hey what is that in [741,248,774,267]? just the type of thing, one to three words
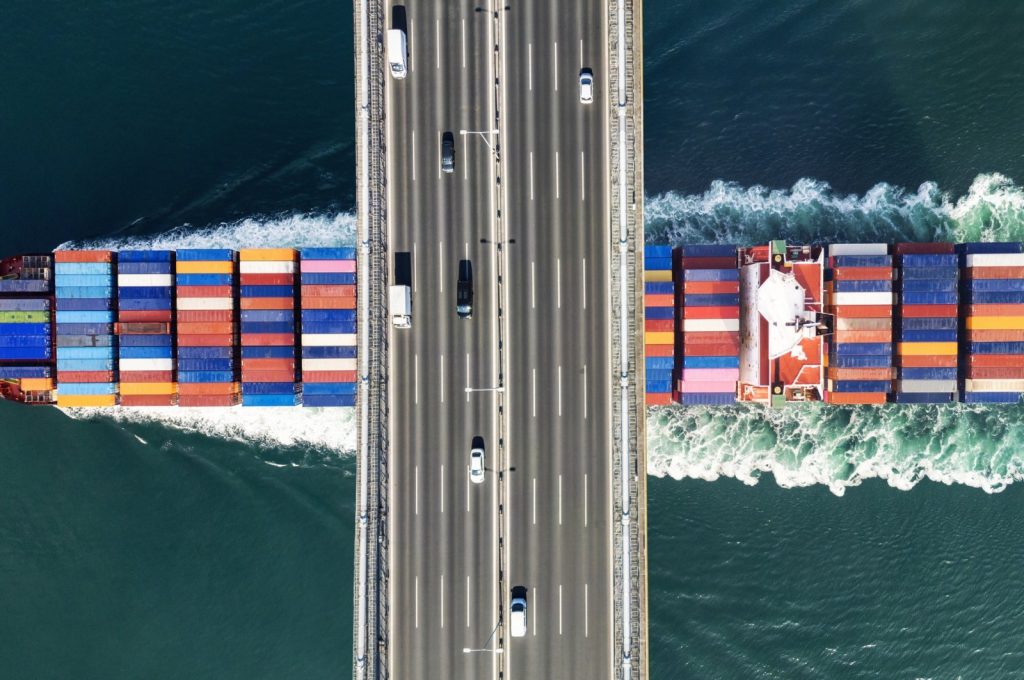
boat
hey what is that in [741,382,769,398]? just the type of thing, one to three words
boat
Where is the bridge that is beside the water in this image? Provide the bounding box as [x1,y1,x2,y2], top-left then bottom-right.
[356,0,647,680]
